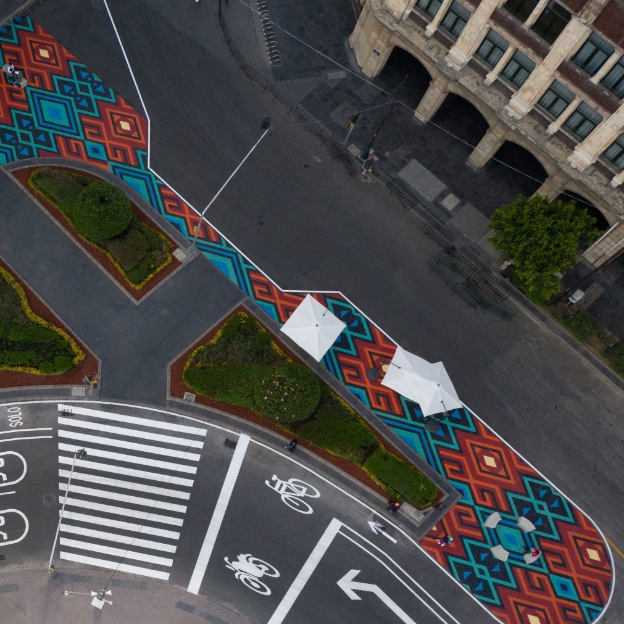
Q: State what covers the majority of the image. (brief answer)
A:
paved ground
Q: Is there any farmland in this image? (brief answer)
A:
No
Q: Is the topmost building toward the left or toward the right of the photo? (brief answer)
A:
right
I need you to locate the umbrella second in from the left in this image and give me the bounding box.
[365,346,431,404]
